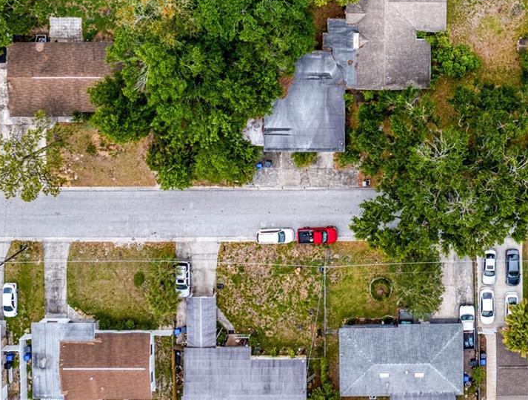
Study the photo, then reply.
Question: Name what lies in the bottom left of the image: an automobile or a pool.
automobile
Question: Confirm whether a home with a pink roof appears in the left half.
No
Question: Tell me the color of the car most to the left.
white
